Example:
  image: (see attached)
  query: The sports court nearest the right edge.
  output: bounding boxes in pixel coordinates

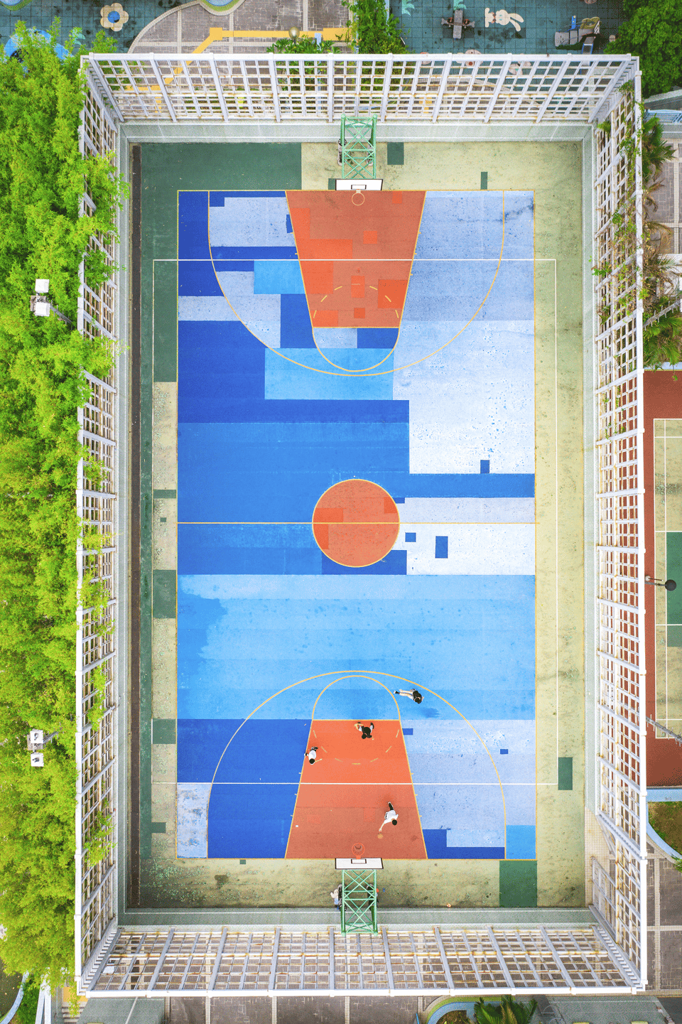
[602,370,682,785]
